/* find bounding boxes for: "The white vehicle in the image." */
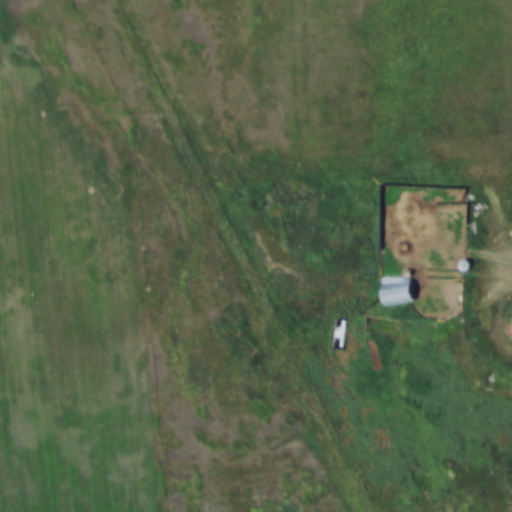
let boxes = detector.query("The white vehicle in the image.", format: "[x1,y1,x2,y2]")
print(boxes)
[334,320,348,350]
